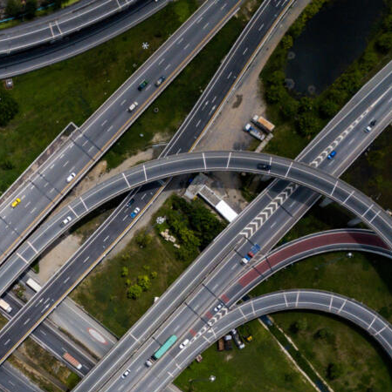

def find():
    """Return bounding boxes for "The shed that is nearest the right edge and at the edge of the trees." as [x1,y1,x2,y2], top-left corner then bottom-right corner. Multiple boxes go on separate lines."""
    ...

[214,199,239,226]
